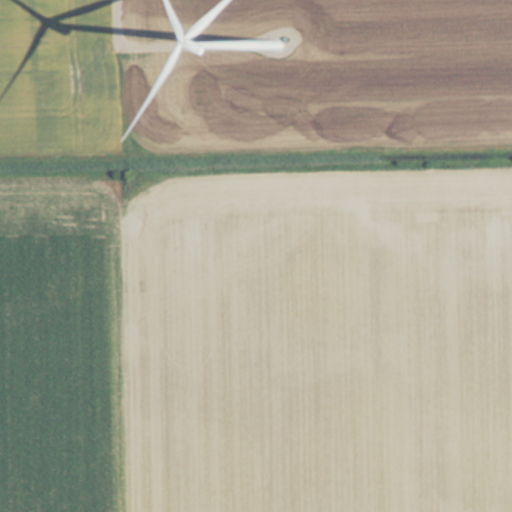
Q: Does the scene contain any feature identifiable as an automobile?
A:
No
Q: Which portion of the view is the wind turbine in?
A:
top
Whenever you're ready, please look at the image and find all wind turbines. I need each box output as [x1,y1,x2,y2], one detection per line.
[124,0,289,141]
